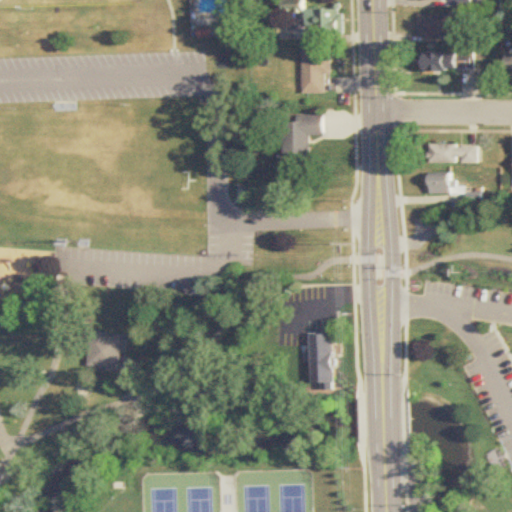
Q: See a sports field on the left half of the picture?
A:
Yes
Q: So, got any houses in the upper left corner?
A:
No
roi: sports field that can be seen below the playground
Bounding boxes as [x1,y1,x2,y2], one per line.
[4,116,203,236]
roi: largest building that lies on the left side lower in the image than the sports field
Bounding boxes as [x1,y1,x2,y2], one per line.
[86,341,121,367]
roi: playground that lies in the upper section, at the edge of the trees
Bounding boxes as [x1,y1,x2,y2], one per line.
[192,0,216,36]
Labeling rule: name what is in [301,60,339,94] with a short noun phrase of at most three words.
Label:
house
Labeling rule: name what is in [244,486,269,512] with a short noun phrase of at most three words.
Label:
tennis court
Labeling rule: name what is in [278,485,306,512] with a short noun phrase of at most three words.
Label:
tennis court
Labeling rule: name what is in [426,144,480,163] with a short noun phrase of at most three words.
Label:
house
